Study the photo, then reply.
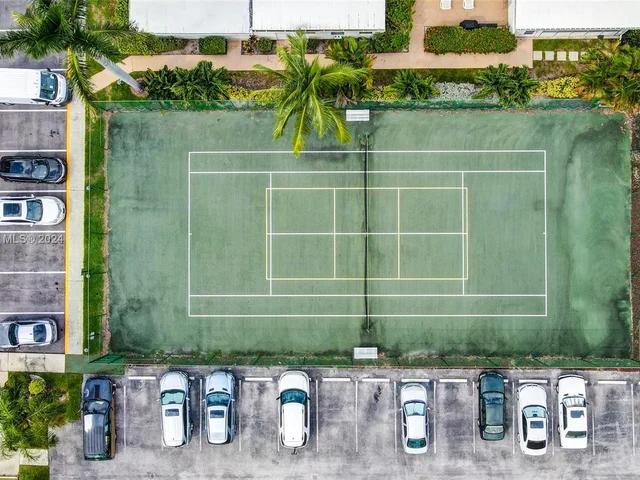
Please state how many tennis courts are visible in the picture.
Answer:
1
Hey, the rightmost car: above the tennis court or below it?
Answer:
below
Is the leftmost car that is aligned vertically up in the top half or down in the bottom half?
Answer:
bottom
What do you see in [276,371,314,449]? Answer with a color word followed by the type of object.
white car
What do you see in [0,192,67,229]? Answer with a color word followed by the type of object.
white car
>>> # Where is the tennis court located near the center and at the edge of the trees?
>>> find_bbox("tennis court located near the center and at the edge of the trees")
[106,110,632,357]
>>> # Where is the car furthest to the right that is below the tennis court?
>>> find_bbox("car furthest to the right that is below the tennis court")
[553,374,590,448]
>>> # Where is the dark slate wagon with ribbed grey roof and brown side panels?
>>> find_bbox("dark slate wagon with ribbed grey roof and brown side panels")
[79,376,118,459]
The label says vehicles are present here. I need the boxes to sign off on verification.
[2,152,68,187]
[0,192,67,229]
[157,371,193,445]
[478,371,509,440]
[276,371,314,449]
[79,376,118,459]
[0,318,58,352]
[200,371,238,444]
[515,383,551,455]
[399,382,432,453]
[553,374,590,448]
[0,64,71,106]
